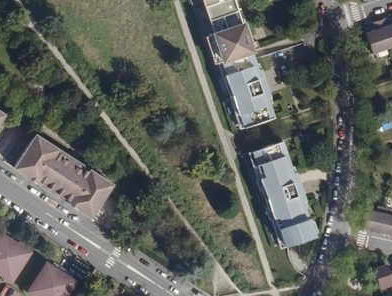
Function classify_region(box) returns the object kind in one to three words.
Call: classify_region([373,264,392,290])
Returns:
house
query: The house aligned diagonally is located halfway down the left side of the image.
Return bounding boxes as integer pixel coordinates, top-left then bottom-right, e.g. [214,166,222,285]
[15,134,116,222]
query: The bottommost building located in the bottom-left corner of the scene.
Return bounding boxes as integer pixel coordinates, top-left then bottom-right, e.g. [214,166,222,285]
[26,262,78,296]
